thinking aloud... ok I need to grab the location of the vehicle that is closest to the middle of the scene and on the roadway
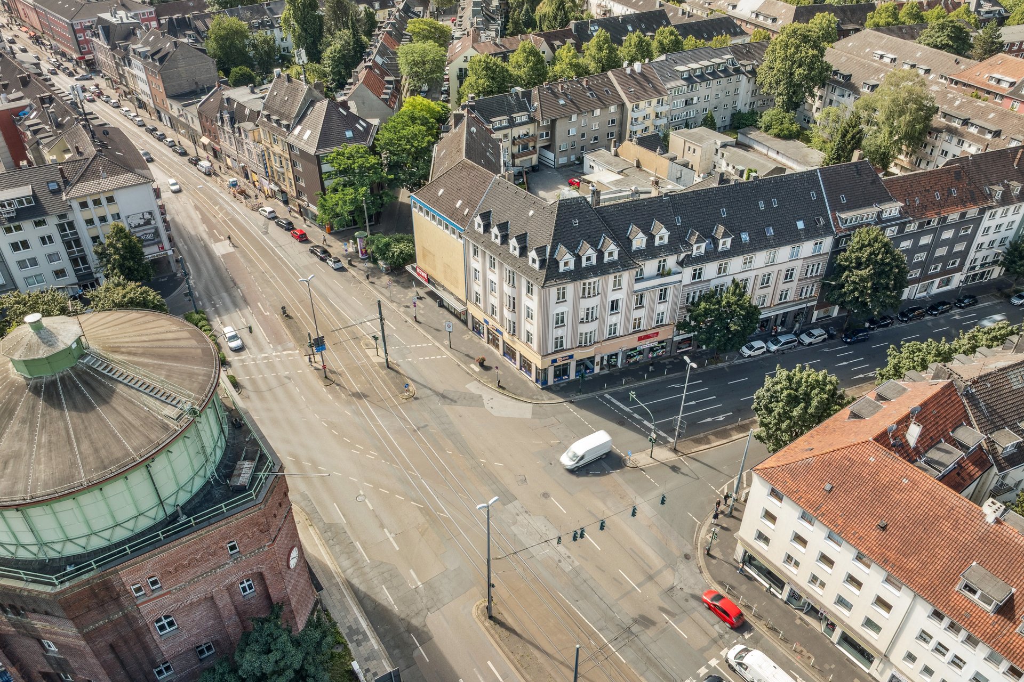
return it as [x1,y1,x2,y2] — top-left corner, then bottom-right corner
[560,420,618,469]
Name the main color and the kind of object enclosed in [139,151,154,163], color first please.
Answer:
gray vehicle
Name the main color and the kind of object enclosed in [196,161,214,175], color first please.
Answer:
white car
